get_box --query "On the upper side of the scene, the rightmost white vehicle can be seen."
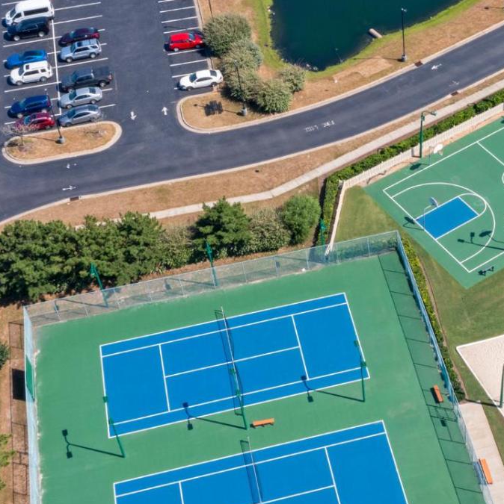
[178,70,222,91]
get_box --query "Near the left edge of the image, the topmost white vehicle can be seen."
[5,0,56,25]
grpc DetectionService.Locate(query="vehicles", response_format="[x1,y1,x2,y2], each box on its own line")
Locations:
[178,70,222,91]
[56,25,99,45]
[57,104,102,127]
[6,47,48,67]
[14,109,56,132]
[10,95,52,118]
[7,17,49,40]
[8,59,54,86]
[5,0,56,25]
[58,87,103,108]
[57,37,102,62]
[59,66,111,92]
